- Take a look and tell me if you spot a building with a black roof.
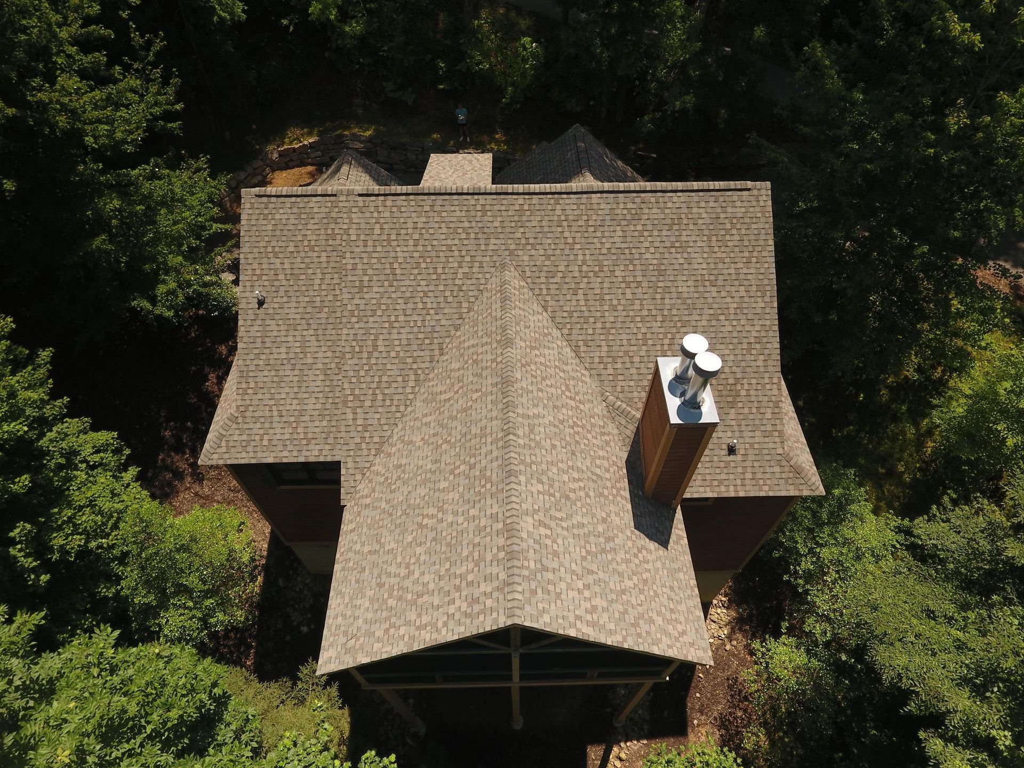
No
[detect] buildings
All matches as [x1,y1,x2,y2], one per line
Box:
[197,125,827,736]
